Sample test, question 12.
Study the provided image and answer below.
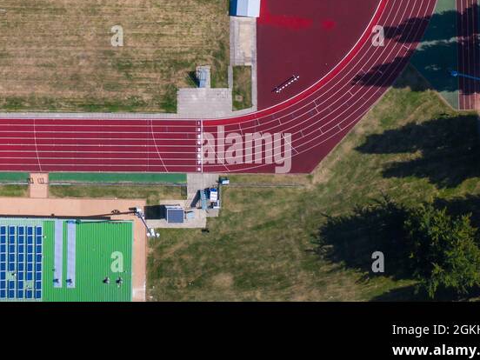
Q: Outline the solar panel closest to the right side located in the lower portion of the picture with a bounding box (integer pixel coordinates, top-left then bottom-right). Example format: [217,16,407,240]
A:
[169,211,185,225]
